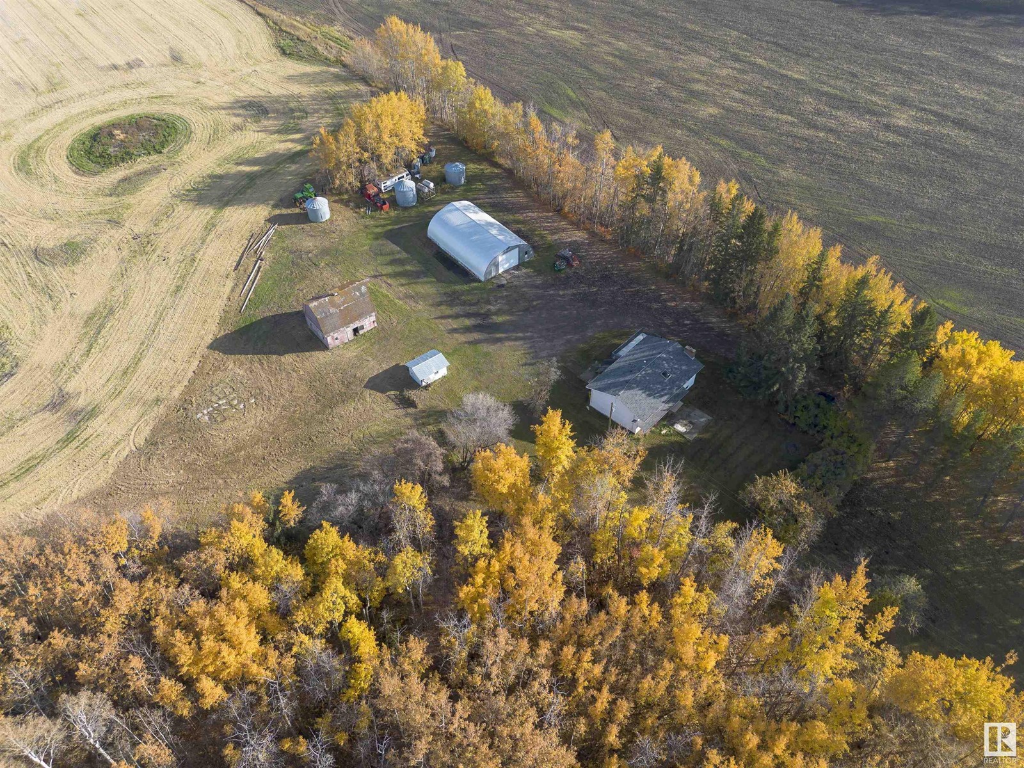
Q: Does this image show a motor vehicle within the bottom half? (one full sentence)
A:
No, looking within the bottom half, there is no motor vehicle.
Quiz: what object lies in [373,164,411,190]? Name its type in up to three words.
vehicle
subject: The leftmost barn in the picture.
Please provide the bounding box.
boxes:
[296,282,385,349]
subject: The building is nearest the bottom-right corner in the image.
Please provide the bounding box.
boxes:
[583,337,706,440]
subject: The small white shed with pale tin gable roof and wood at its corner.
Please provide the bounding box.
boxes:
[403,350,450,385]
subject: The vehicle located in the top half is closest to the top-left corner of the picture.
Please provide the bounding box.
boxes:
[291,189,318,209]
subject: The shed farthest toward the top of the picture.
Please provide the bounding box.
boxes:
[424,202,535,280]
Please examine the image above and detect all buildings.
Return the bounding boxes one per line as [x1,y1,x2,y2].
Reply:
[583,337,706,440]
[296,282,385,349]
[403,350,450,385]
[424,202,535,280]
